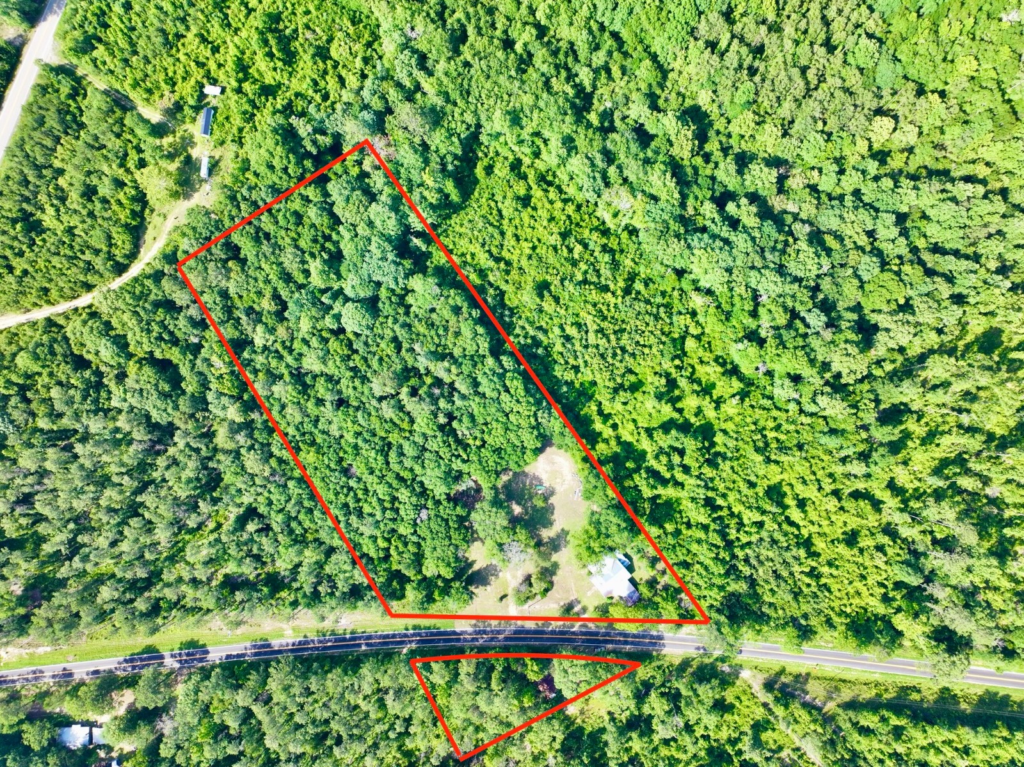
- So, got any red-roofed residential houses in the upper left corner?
No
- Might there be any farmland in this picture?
No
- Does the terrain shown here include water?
No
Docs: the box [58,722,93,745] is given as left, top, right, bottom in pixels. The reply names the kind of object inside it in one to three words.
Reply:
house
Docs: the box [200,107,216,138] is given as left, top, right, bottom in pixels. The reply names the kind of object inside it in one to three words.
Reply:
house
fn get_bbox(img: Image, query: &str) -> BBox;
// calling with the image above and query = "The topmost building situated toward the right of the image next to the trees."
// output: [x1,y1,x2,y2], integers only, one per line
[589,548,640,601]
